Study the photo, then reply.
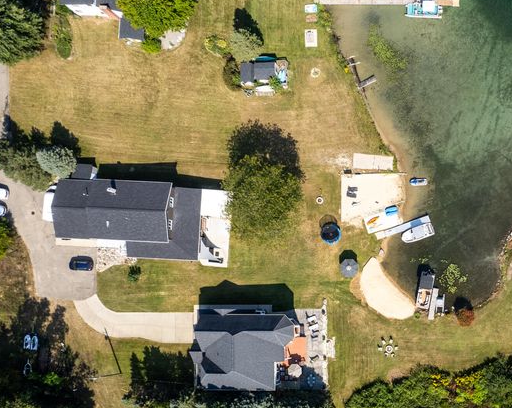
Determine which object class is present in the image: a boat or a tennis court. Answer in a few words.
boat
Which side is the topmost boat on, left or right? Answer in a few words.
right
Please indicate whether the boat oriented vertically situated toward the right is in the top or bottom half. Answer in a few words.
bottom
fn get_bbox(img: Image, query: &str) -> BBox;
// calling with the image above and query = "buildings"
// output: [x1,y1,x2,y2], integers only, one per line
[189,305,302,391]
[52,164,205,260]
[240,60,288,97]
[58,0,149,43]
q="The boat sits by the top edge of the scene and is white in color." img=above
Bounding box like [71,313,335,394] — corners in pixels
[406,0,445,20]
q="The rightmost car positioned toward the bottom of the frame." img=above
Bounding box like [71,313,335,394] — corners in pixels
[69,256,96,270]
